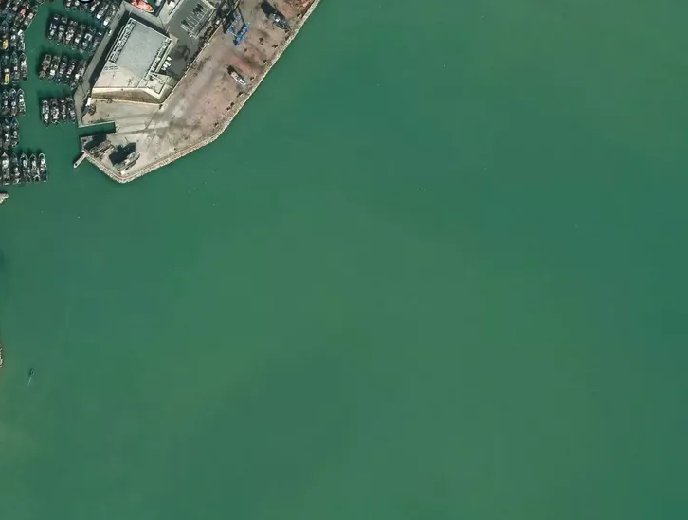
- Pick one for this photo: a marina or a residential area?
marina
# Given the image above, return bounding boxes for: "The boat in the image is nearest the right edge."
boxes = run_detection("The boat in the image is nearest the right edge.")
[267,9,291,28]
